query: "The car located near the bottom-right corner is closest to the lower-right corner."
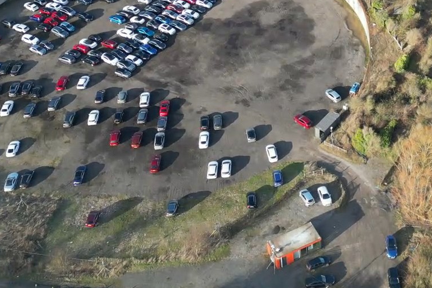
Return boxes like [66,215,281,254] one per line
[385,265,403,288]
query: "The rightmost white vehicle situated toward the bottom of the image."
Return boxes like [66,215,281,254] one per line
[316,183,334,209]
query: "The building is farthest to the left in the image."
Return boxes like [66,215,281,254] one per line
[266,221,321,268]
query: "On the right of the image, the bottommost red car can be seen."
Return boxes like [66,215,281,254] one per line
[291,113,314,130]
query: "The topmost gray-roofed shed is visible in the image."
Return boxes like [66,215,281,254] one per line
[315,111,340,143]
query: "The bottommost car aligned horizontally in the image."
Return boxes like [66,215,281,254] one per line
[302,272,337,288]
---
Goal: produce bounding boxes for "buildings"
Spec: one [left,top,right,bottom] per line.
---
[266,221,321,268]
[315,111,340,143]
